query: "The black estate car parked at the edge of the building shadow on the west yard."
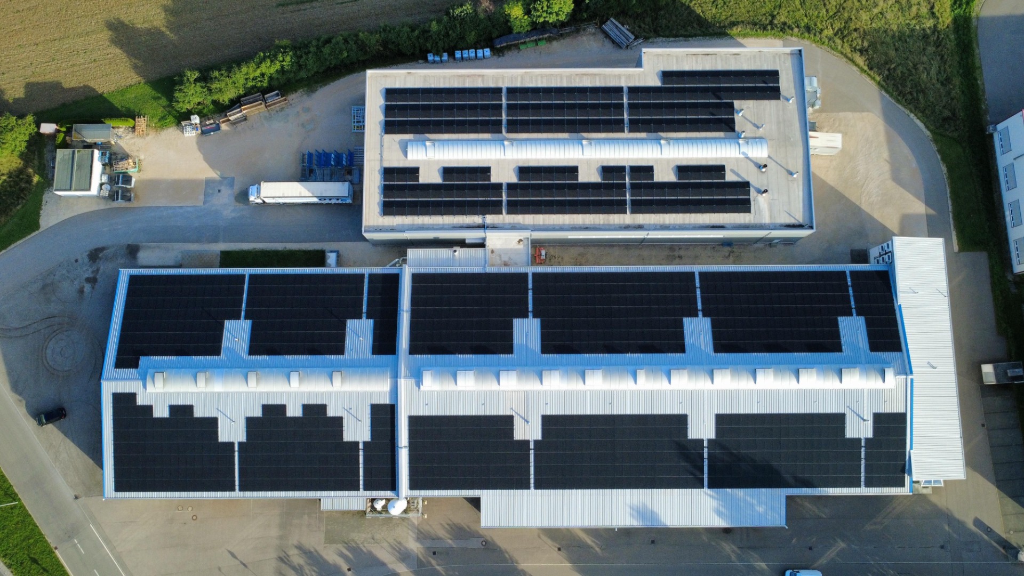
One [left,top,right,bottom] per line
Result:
[36,406,69,427]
